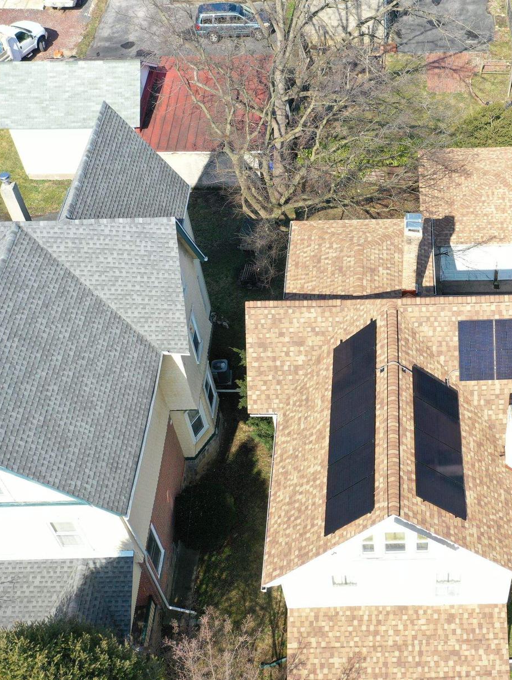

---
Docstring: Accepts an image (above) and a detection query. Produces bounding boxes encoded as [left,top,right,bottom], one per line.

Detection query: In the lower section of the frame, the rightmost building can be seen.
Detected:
[245,208,512,680]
